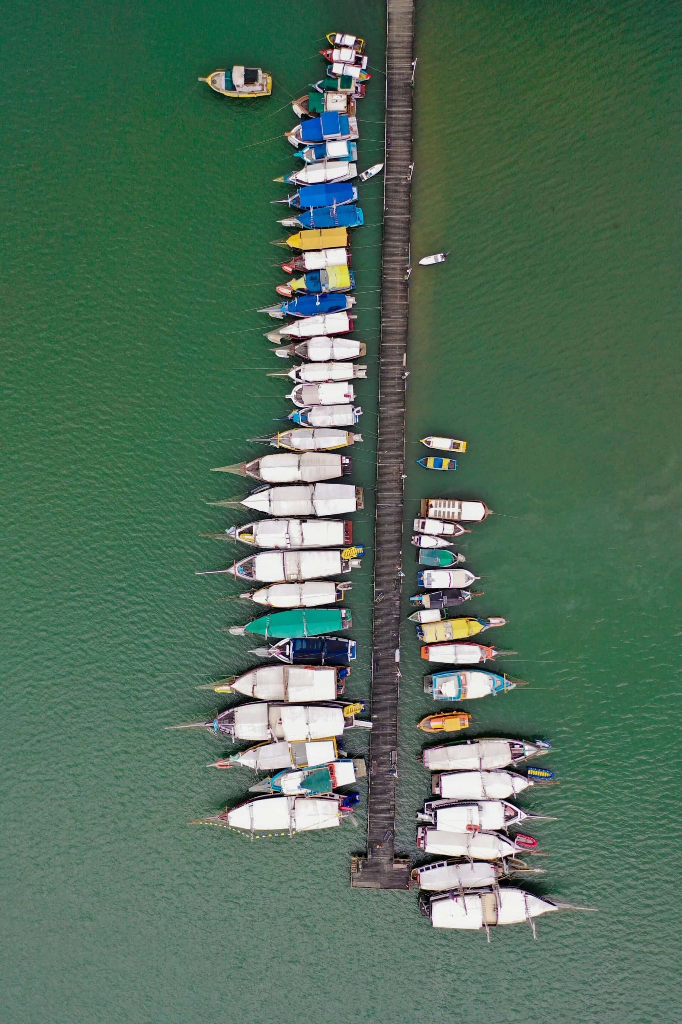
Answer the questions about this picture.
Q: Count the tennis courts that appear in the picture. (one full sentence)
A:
There are no tennis courts in this view.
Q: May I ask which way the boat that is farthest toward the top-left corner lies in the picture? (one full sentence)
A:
What the image shows is the boat that is farthest toward the top-left corner lying from left to right.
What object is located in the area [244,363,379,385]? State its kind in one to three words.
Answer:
boat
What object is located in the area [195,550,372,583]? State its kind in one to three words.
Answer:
boat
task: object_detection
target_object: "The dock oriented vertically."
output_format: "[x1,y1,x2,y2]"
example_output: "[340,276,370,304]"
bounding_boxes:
[351,0,415,890]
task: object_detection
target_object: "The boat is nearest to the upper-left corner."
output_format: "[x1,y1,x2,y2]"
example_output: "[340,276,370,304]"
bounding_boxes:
[193,67,271,100]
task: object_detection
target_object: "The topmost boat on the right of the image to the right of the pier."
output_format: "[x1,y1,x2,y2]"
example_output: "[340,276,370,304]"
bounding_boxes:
[418,251,450,266]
